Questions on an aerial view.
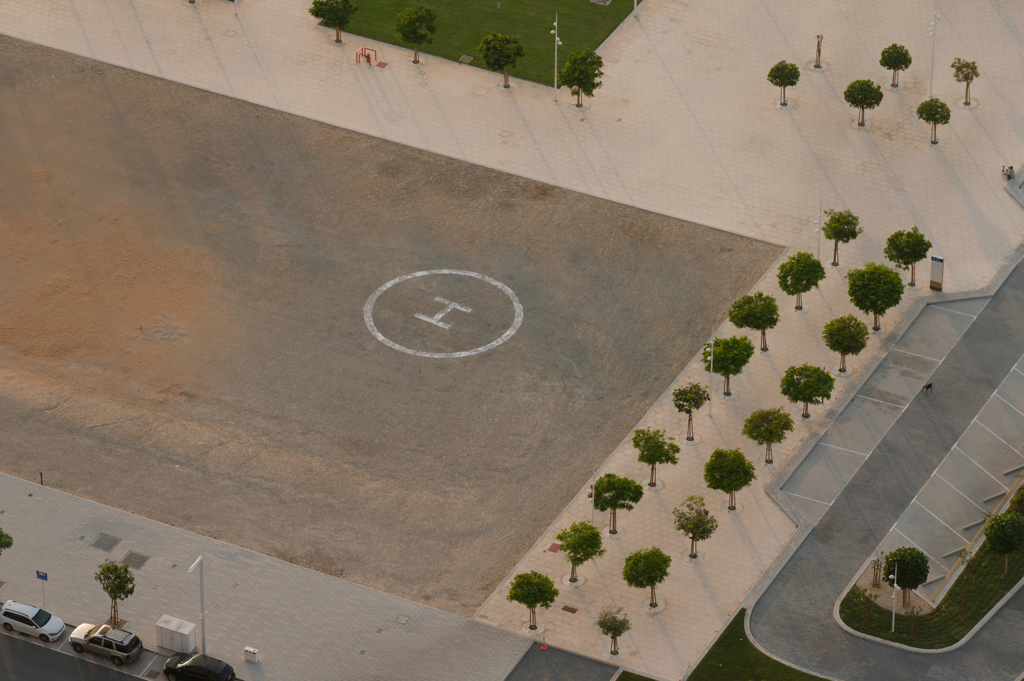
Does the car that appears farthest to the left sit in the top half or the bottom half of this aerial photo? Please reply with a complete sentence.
The car that appears farthest to the left is in the bottom half of the image.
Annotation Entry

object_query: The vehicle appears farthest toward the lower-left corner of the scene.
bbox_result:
[0,598,67,643]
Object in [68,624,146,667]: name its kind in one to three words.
car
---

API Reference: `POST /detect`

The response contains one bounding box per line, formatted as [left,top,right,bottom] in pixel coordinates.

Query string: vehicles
[68,624,146,667]
[0,598,67,643]
[162,654,237,681]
